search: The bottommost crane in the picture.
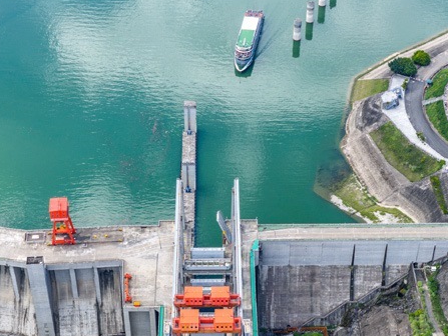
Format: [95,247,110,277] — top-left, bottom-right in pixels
[167,309,247,336]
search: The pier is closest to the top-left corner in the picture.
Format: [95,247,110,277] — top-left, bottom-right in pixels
[184,102,197,135]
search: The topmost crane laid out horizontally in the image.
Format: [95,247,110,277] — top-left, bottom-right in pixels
[167,285,246,311]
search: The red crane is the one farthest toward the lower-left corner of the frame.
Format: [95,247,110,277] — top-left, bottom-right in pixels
[48,194,78,247]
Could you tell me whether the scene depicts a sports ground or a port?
port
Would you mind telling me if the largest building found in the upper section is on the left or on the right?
right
